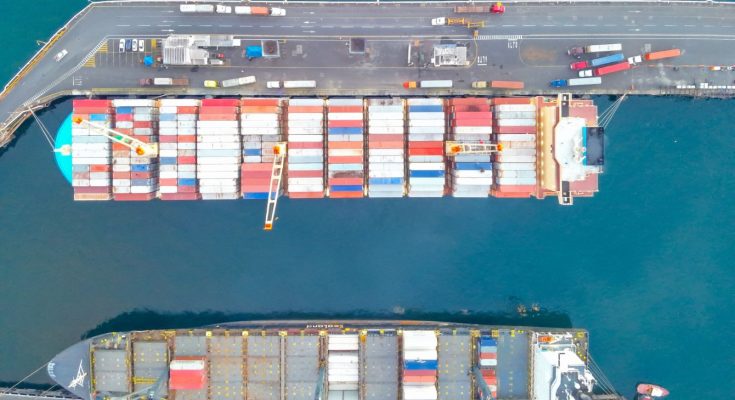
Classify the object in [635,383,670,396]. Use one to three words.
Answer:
boat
